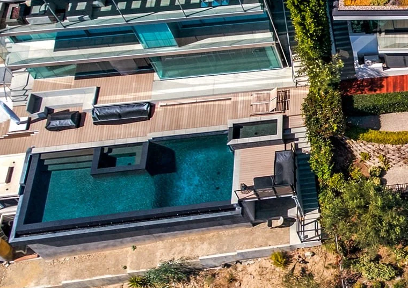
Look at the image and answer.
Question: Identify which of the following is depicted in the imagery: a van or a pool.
pool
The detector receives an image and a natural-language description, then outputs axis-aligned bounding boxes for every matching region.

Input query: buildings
[333,0,408,82]
[0,0,291,80]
